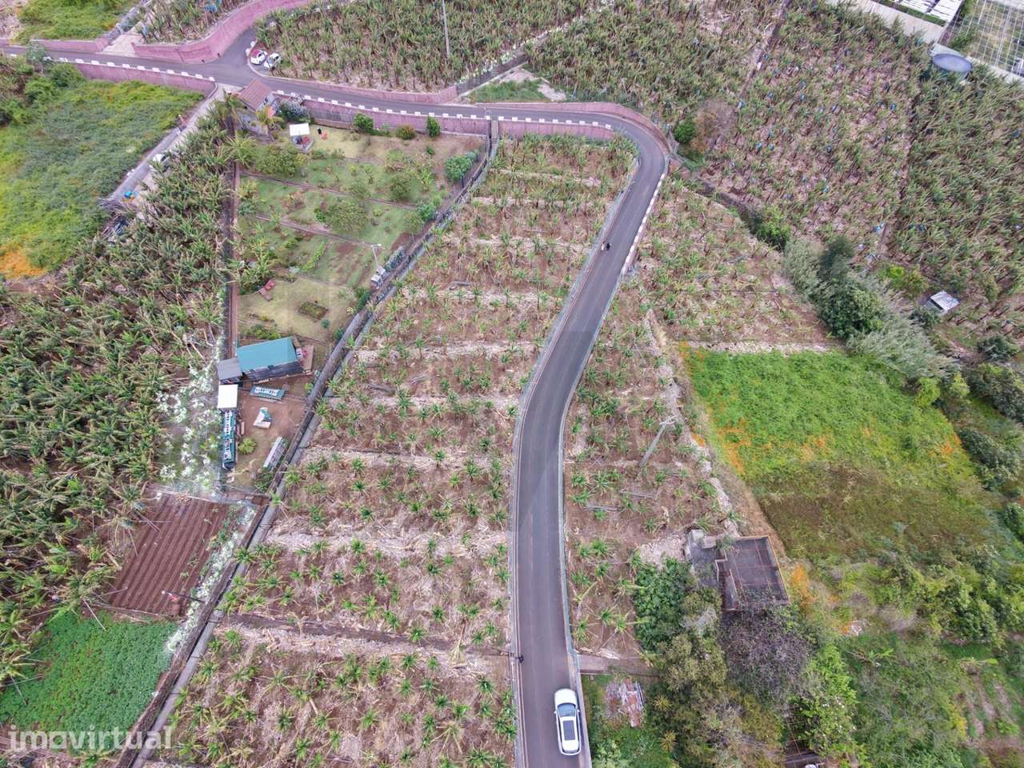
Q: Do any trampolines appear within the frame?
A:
No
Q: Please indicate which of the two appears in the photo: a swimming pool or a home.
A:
home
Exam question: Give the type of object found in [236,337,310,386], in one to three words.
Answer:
shed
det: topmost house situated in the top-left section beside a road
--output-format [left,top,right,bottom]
[241,79,279,128]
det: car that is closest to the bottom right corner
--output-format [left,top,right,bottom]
[552,690,584,757]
